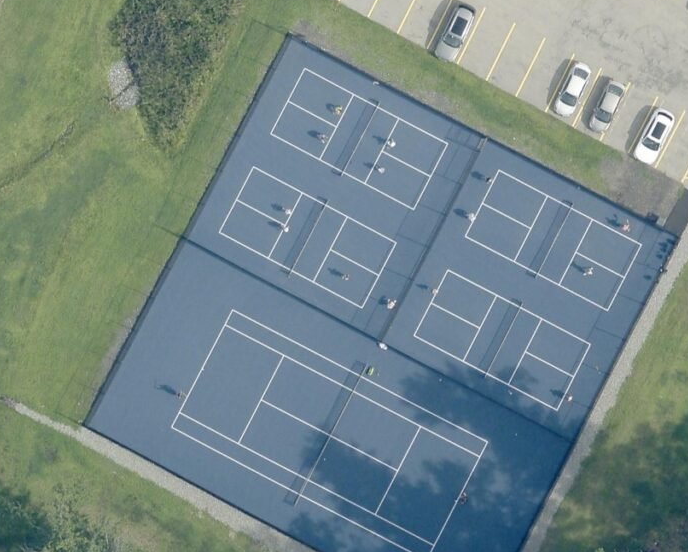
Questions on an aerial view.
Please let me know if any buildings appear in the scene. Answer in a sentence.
No, there appears to be no building in this shot.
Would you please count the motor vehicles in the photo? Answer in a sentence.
I count 4 motor vehicles.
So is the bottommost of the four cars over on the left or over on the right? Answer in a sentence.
The bottommost of the four cars appears in the right half of the scene.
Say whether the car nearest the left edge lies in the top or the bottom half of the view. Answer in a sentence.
The car nearest the left edge sits in the top half of the picture.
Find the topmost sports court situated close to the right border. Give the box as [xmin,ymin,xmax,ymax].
[434,137,676,338]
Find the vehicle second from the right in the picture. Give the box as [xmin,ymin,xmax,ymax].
[587,79,626,132]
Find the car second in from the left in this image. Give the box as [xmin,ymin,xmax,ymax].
[553,61,594,116]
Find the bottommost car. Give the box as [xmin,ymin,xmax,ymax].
[634,107,675,164]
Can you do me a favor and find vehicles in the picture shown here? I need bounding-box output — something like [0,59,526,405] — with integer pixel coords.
[634,107,675,164]
[435,5,477,61]
[553,61,594,116]
[587,79,626,132]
